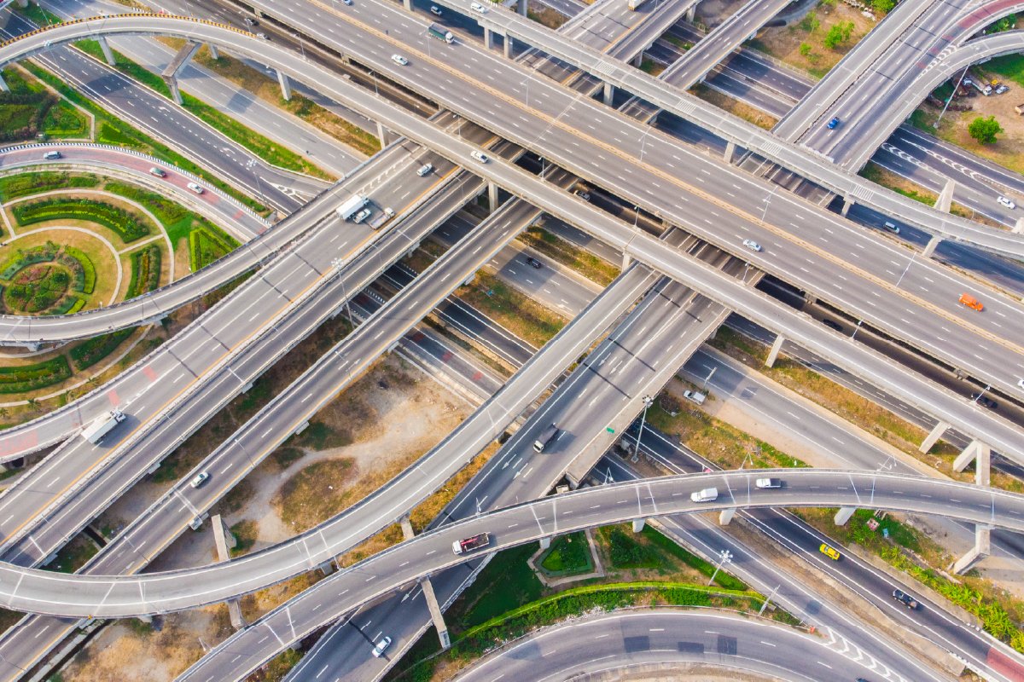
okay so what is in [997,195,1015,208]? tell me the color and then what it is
white vehicle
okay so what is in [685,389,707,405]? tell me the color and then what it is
white vehicle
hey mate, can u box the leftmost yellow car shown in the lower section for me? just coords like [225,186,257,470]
[820,543,841,561]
